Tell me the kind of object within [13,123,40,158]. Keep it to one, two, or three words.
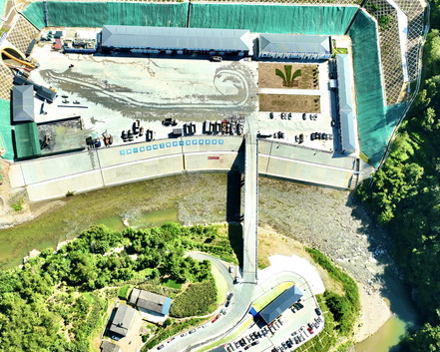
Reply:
shed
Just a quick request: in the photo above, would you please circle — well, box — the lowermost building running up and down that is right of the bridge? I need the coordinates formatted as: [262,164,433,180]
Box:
[338,110,356,154]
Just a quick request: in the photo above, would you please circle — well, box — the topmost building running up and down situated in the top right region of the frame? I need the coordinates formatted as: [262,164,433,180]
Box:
[334,55,352,110]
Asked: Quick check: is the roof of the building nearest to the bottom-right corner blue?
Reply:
Yes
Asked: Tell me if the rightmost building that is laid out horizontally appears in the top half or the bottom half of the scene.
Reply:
top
